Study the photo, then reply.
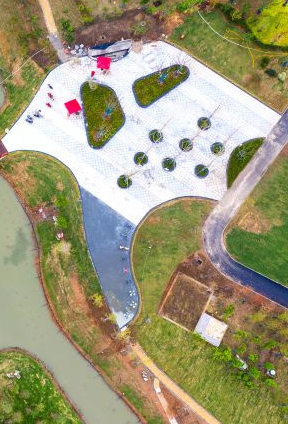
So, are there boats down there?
No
